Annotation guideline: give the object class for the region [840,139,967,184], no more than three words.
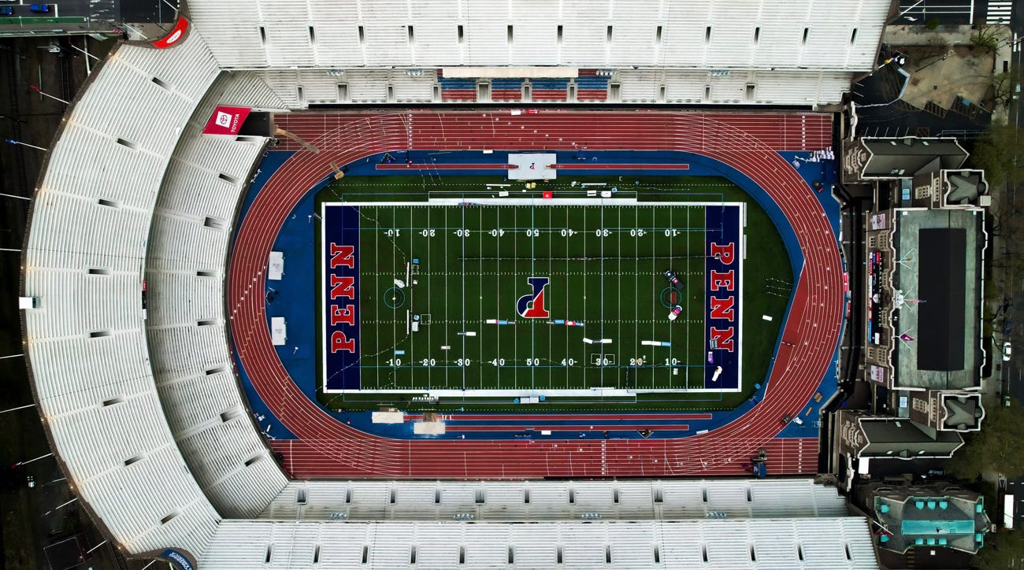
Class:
building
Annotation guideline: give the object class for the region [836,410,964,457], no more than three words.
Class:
building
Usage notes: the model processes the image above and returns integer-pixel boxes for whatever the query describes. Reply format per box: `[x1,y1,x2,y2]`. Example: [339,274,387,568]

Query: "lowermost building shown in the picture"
[850,471,991,554]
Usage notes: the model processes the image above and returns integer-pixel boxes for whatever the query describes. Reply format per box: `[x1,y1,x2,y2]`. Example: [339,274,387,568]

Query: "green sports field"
[315,176,793,411]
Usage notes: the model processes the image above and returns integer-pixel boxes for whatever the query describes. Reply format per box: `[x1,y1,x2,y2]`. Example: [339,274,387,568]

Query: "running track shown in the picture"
[228,111,847,478]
